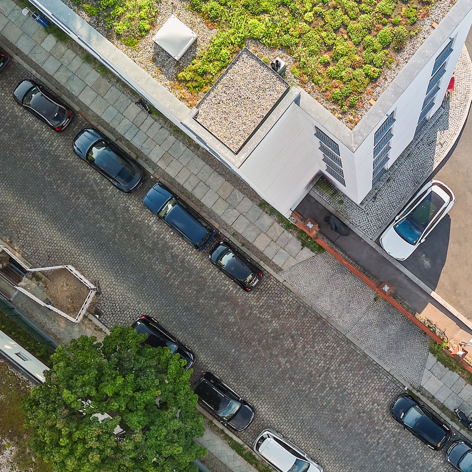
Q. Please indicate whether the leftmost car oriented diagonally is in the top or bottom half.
top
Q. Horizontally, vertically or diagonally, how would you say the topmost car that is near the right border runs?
diagonally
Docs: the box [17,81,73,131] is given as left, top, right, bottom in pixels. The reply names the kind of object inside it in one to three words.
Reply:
car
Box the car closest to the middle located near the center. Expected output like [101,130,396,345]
[212,243,263,291]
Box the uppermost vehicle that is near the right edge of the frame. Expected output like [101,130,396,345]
[386,183,452,257]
